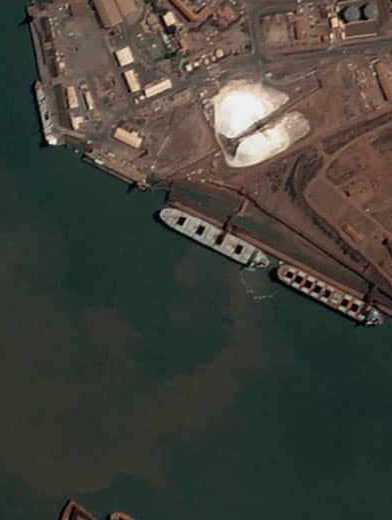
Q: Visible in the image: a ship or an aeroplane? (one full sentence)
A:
Looking from above, you can make out a ship.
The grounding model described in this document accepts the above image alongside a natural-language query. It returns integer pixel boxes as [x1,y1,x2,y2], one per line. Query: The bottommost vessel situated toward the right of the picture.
[278,267,385,327]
